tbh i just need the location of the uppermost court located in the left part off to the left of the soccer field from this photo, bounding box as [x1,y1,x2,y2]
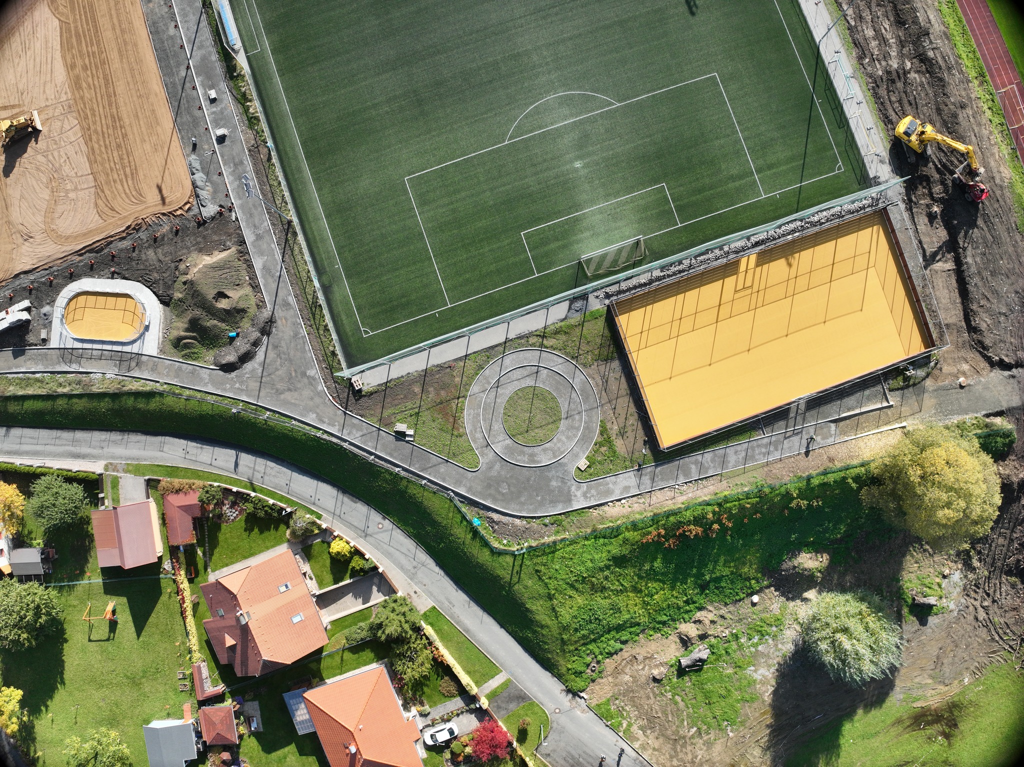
[53,288,146,340]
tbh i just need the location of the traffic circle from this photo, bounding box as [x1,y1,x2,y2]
[467,349,599,481]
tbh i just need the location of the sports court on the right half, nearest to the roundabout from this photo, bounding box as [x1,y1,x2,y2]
[608,201,949,451]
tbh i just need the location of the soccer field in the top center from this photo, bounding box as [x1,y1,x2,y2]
[229,0,872,375]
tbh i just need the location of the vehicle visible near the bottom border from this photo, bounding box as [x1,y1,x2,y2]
[422,725,459,749]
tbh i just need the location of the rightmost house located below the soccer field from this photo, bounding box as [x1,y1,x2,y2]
[282,661,430,767]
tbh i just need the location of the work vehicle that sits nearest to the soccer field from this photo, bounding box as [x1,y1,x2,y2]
[891,121,975,181]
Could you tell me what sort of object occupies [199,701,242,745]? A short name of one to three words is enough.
gazebo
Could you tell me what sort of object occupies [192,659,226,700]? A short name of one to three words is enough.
shed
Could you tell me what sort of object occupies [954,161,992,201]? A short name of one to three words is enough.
truck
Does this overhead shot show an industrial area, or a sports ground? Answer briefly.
sports ground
